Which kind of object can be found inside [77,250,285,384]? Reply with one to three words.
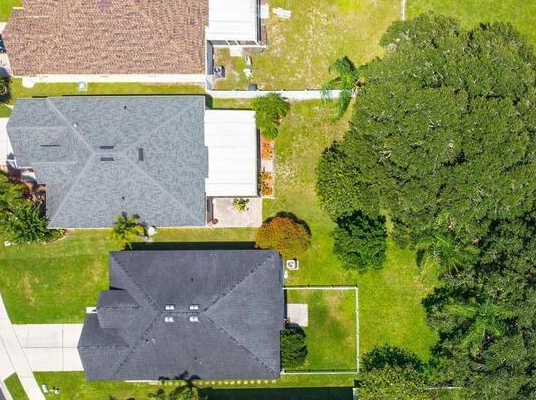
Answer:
house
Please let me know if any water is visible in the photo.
No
